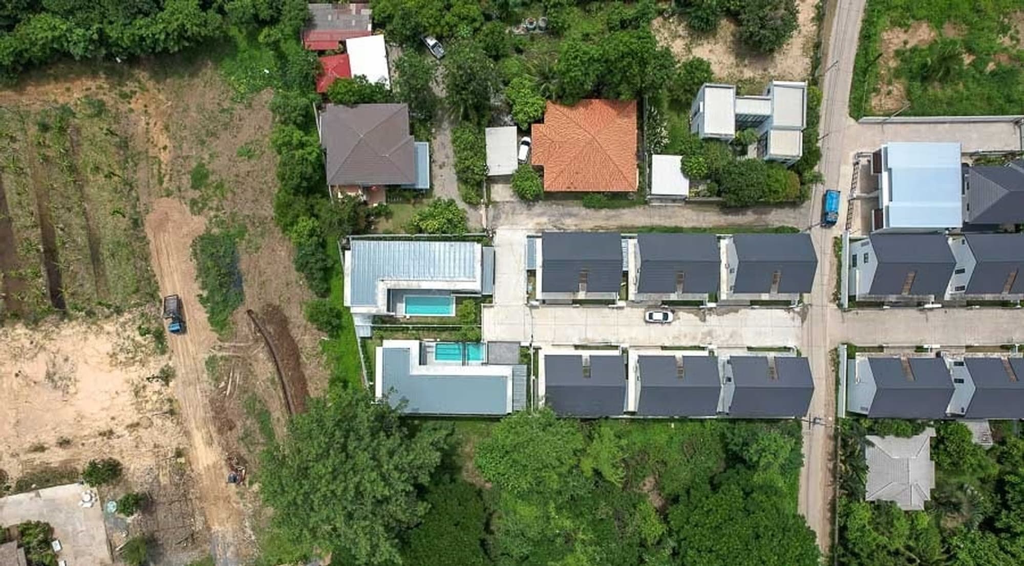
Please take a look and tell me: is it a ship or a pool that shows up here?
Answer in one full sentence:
Looking from above, you can make out a pool.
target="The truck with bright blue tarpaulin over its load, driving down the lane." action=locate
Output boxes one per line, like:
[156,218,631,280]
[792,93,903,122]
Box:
[817,189,838,228]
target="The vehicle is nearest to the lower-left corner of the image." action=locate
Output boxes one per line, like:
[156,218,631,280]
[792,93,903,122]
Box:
[228,460,245,486]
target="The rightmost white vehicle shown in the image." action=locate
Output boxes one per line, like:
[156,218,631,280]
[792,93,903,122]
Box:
[645,311,673,324]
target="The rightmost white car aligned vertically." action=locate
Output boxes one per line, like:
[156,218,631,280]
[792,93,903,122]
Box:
[517,136,532,164]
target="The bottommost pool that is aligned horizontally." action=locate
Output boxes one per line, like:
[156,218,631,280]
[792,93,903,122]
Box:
[433,342,485,362]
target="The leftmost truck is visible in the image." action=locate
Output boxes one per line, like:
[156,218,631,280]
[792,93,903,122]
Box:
[163,294,186,335]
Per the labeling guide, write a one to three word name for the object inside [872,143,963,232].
building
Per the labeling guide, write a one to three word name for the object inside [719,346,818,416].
house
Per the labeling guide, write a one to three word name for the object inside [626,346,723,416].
house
